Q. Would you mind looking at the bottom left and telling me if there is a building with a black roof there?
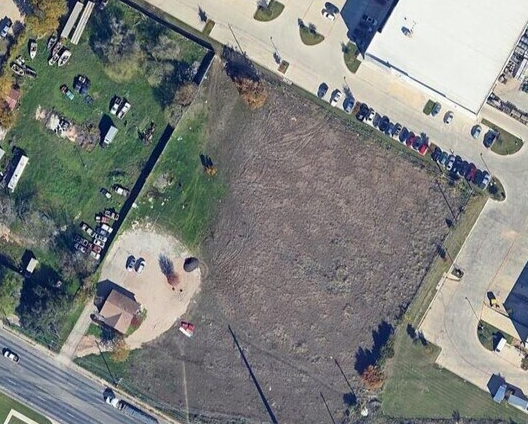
No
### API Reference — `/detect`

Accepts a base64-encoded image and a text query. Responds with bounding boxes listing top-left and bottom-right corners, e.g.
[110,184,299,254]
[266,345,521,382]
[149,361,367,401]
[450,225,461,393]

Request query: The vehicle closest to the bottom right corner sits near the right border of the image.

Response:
[507,395,528,412]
